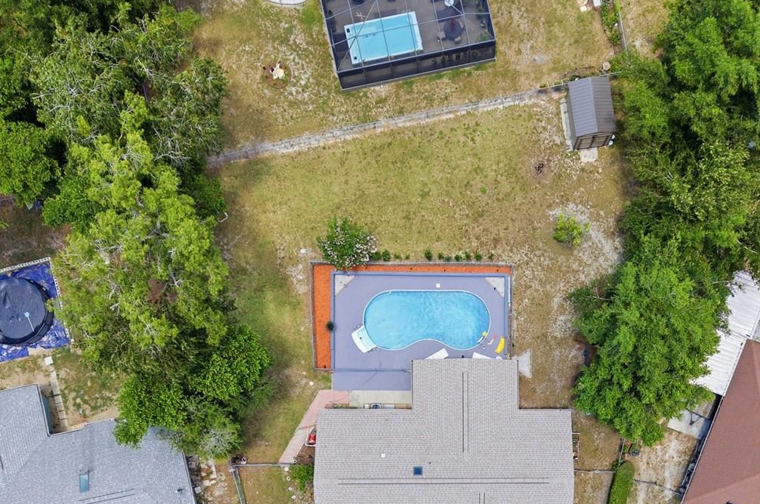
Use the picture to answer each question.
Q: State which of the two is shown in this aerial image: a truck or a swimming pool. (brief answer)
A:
swimming pool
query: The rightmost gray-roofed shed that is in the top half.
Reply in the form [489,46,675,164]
[568,76,614,148]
